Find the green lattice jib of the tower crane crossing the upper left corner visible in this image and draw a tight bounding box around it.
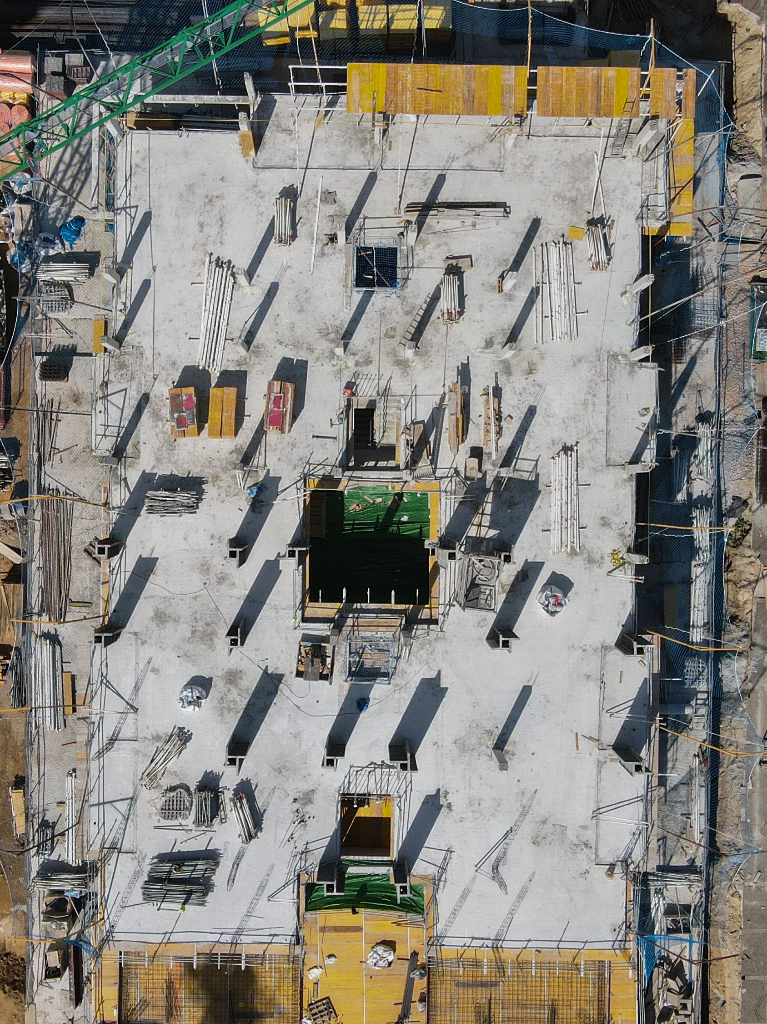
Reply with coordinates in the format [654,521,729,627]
[0,0,321,183]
